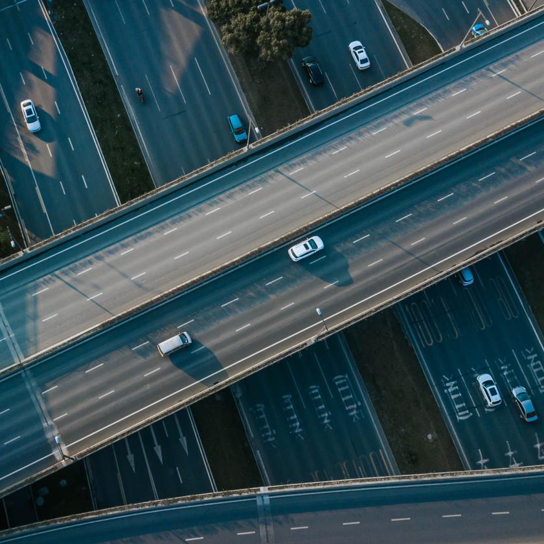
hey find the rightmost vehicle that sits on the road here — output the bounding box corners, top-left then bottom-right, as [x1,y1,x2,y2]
[511,386,539,425]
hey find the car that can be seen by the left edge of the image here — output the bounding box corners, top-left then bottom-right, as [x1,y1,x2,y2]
[21,99,42,131]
